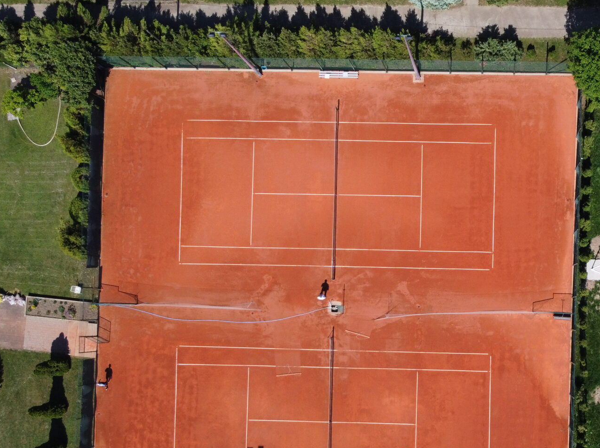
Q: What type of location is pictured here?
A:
sports ground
